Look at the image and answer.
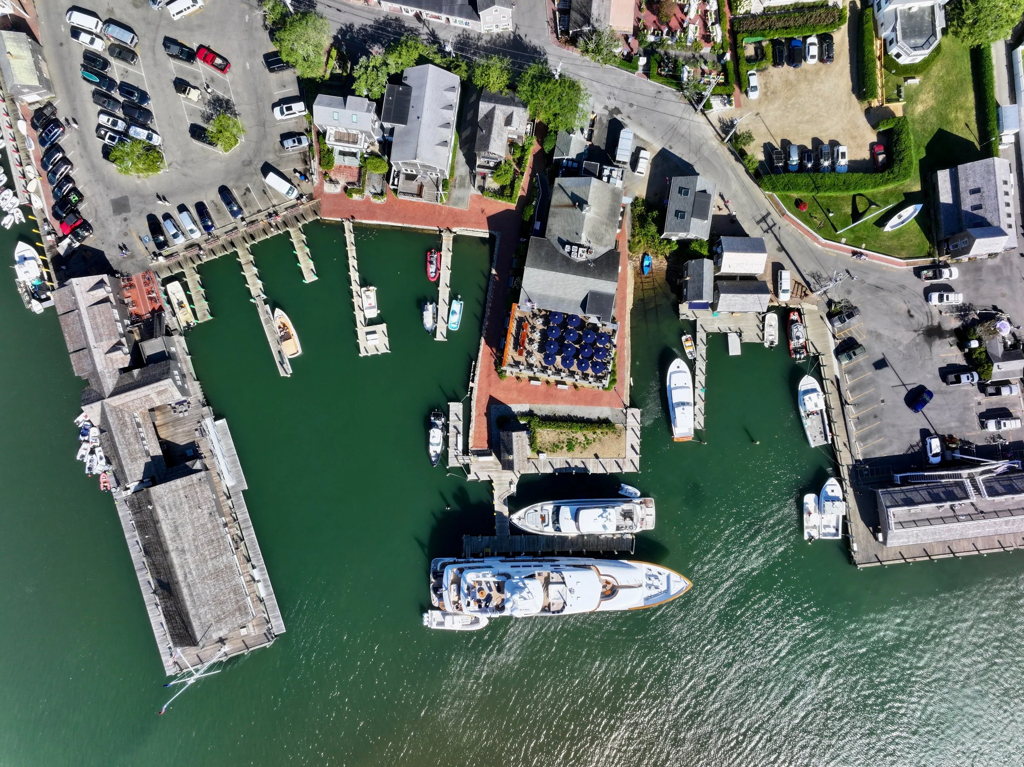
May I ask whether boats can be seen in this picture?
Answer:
Yes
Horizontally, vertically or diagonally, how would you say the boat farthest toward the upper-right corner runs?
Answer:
diagonally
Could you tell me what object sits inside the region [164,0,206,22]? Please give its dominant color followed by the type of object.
white vehicle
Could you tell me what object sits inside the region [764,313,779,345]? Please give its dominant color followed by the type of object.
white boat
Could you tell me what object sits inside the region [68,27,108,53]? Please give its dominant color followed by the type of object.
white truck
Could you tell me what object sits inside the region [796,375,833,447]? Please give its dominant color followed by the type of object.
white boat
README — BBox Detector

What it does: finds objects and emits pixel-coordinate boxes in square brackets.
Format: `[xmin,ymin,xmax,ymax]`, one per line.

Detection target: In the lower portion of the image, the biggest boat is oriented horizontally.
[431,554,695,617]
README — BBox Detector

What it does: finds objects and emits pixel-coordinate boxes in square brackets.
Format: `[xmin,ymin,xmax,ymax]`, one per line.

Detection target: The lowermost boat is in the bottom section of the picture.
[425,610,488,630]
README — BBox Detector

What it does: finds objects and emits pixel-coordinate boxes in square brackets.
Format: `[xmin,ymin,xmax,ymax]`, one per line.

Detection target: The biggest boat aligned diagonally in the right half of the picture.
[881,204,923,232]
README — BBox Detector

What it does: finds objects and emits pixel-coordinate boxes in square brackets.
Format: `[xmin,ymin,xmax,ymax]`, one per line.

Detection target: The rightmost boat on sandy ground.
[641,255,653,276]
